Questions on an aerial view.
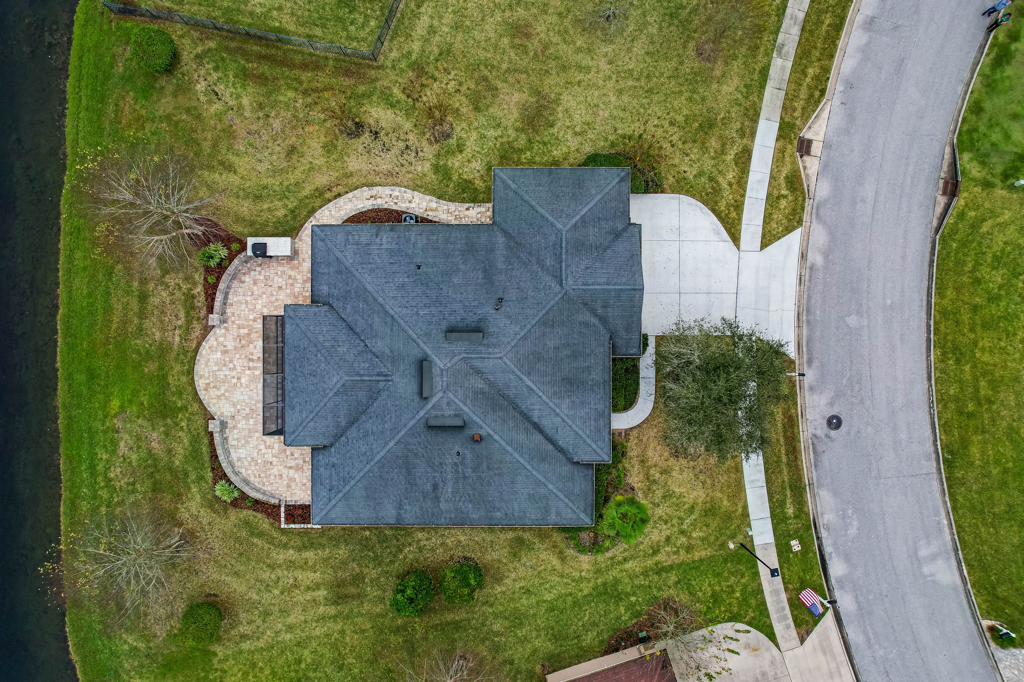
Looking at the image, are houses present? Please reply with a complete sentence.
Yes, I can see a house in this picture.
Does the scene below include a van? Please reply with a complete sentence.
No, no van can be seen from above.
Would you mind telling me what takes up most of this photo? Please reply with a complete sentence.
The largest share of the image is taken up by grass.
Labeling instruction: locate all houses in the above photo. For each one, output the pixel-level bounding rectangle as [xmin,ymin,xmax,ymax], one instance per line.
[283,167,645,526]
[547,644,680,682]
